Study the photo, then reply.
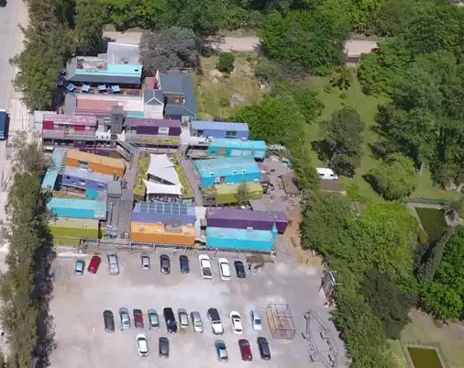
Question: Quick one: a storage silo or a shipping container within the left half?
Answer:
shipping container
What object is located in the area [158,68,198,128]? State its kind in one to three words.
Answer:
house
